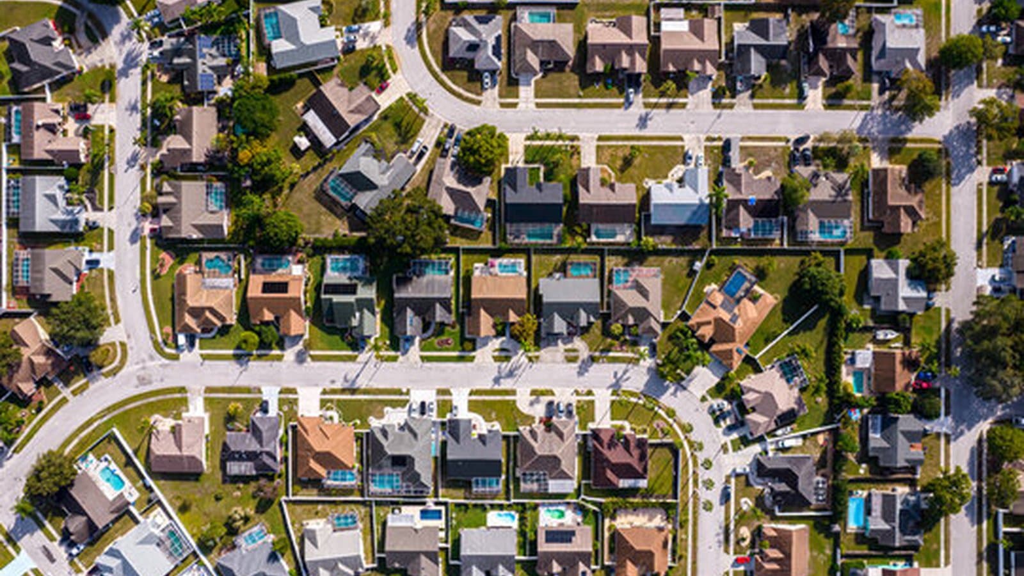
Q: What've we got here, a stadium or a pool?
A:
pool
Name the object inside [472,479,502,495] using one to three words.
swimming pool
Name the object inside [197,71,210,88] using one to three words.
solar panel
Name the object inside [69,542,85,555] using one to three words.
vehicle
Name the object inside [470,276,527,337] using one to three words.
house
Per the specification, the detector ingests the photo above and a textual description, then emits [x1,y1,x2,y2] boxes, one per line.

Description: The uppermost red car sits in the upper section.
[375,81,390,95]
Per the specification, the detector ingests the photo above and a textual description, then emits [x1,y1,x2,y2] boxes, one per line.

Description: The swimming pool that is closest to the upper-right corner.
[892,9,923,23]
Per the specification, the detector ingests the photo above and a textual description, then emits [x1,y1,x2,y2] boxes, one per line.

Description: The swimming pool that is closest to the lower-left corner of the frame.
[85,455,131,497]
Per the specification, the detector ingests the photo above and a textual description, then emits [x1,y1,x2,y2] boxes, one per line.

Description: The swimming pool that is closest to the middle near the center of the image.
[489,258,525,275]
